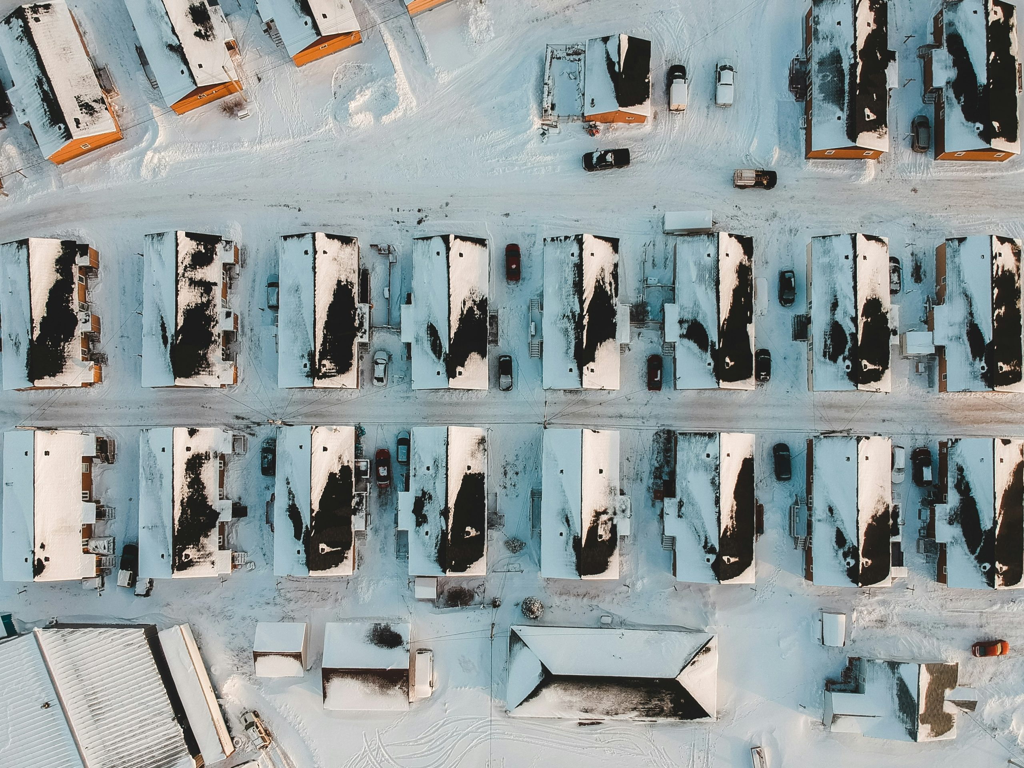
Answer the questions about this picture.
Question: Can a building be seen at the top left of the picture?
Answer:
Yes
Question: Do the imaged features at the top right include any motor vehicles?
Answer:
Yes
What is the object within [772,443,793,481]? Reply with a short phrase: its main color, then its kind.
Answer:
black car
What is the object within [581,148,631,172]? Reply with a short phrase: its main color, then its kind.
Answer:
black truck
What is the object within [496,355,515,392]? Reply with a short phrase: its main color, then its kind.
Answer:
black car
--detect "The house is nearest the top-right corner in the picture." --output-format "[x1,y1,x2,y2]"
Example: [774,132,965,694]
[914,0,1024,160]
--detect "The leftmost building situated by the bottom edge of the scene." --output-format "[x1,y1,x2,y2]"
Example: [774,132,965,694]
[0,620,211,768]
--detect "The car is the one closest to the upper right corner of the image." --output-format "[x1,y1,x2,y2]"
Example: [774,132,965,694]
[910,116,932,154]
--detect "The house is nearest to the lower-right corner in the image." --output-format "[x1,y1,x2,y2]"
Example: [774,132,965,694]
[823,656,978,744]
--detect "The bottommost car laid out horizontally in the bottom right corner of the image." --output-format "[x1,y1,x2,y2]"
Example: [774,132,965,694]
[969,638,1008,657]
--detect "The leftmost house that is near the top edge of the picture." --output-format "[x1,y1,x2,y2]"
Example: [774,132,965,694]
[0,0,124,164]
